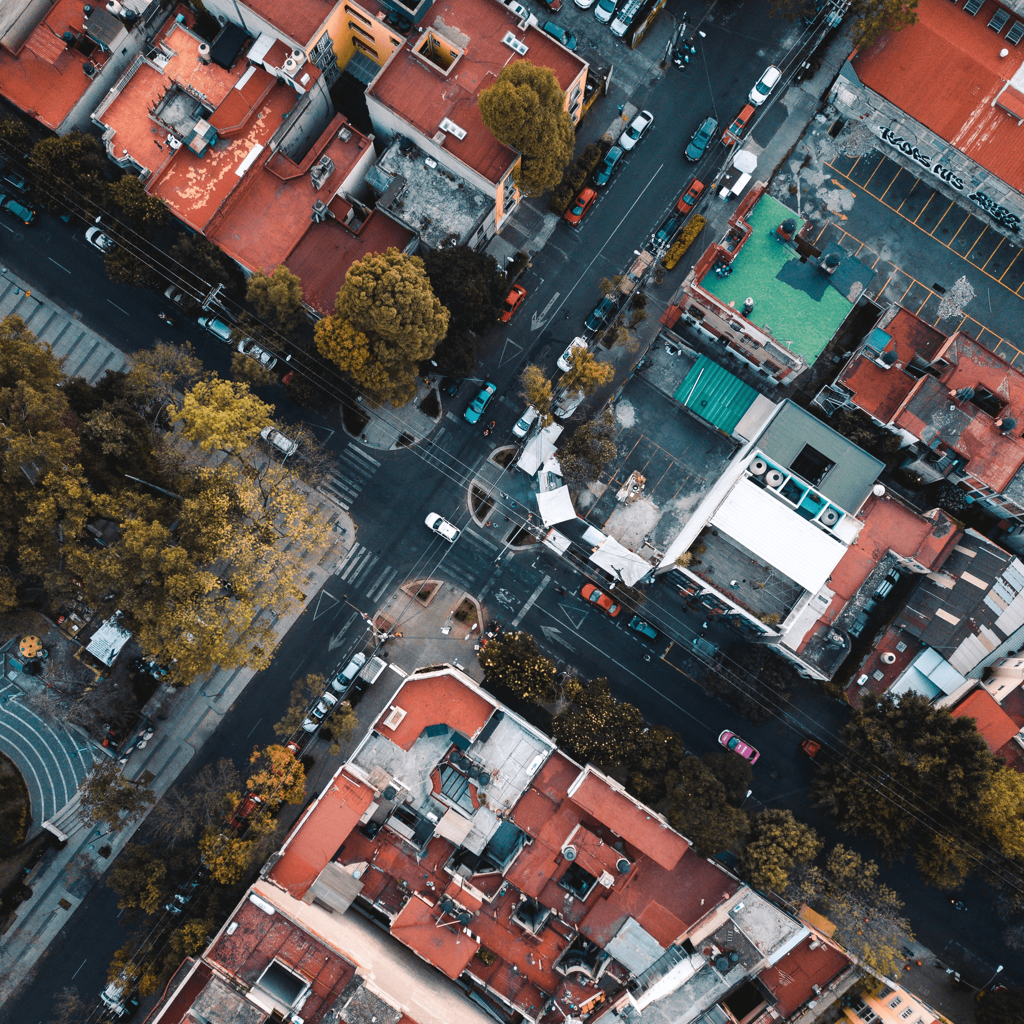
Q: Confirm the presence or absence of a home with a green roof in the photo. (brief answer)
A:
Yes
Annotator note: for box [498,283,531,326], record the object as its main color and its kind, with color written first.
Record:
red car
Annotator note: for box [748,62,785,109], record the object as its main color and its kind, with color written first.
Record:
white car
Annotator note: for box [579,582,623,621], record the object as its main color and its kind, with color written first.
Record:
red car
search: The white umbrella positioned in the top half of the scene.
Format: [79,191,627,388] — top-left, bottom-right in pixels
[728,148,759,178]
